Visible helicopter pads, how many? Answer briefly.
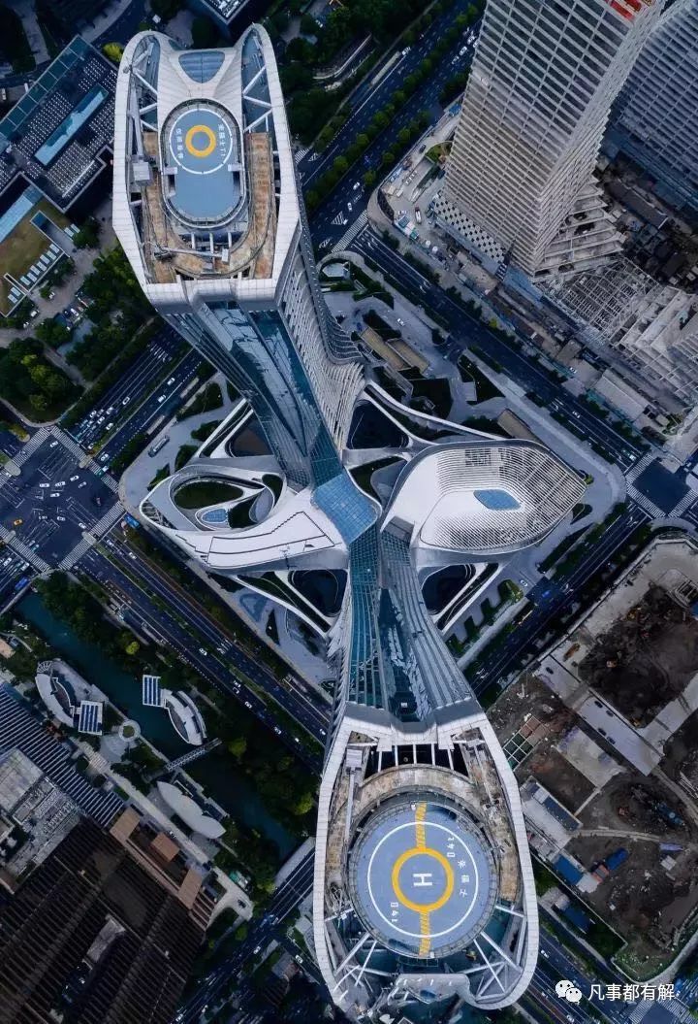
2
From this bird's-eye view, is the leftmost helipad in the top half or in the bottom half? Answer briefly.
top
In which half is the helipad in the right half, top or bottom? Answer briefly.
bottom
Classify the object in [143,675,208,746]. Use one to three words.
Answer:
building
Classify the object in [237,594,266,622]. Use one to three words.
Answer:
swimming pool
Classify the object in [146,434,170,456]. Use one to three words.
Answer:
bus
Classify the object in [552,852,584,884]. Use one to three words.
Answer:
shed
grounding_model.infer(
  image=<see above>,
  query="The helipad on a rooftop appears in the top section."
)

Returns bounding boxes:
[160,99,244,233]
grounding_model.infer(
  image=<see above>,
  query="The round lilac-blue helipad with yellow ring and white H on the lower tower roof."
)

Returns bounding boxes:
[347,790,500,965]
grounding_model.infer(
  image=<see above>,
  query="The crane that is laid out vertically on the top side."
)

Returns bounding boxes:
[130,105,155,188]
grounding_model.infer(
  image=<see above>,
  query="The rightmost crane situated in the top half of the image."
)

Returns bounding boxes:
[144,240,232,268]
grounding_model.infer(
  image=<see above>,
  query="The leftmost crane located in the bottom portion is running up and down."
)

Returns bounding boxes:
[345,744,363,842]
